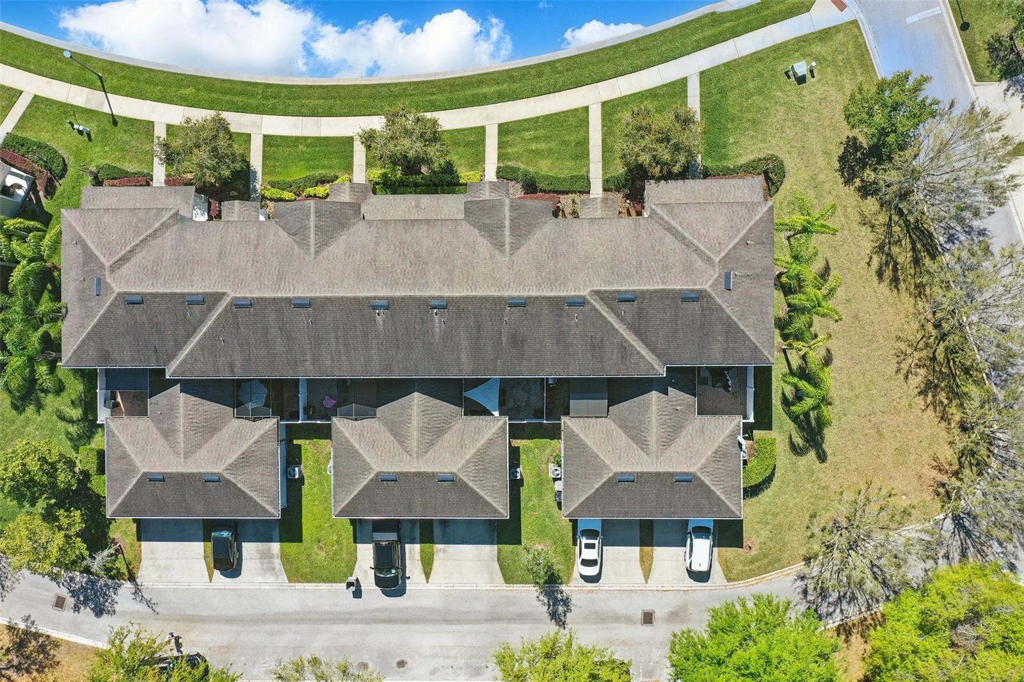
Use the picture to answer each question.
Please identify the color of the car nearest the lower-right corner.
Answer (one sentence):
In this view, the car nearest the lower-right corner is white.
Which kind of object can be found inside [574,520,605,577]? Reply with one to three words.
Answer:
car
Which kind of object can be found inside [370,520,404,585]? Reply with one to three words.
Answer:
truck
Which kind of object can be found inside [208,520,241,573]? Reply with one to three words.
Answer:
car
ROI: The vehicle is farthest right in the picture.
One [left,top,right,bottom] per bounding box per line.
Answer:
[684,520,717,572]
